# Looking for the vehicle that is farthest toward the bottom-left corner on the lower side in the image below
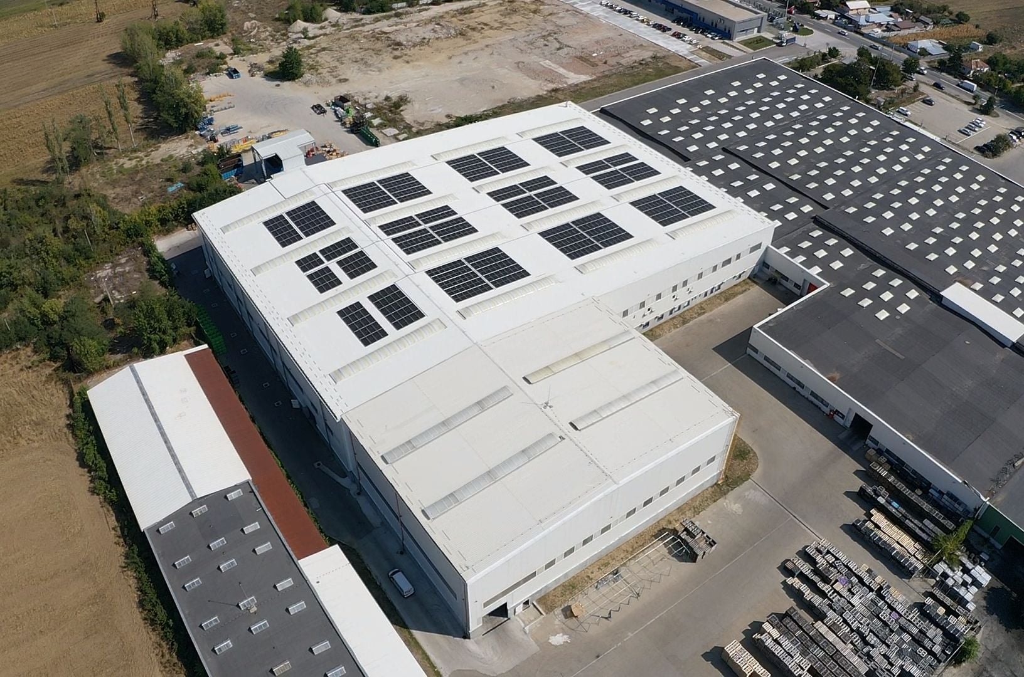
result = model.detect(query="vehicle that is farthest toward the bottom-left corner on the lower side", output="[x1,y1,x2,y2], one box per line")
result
[385,567,412,598]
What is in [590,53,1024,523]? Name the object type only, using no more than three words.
building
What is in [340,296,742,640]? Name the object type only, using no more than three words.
warehouse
